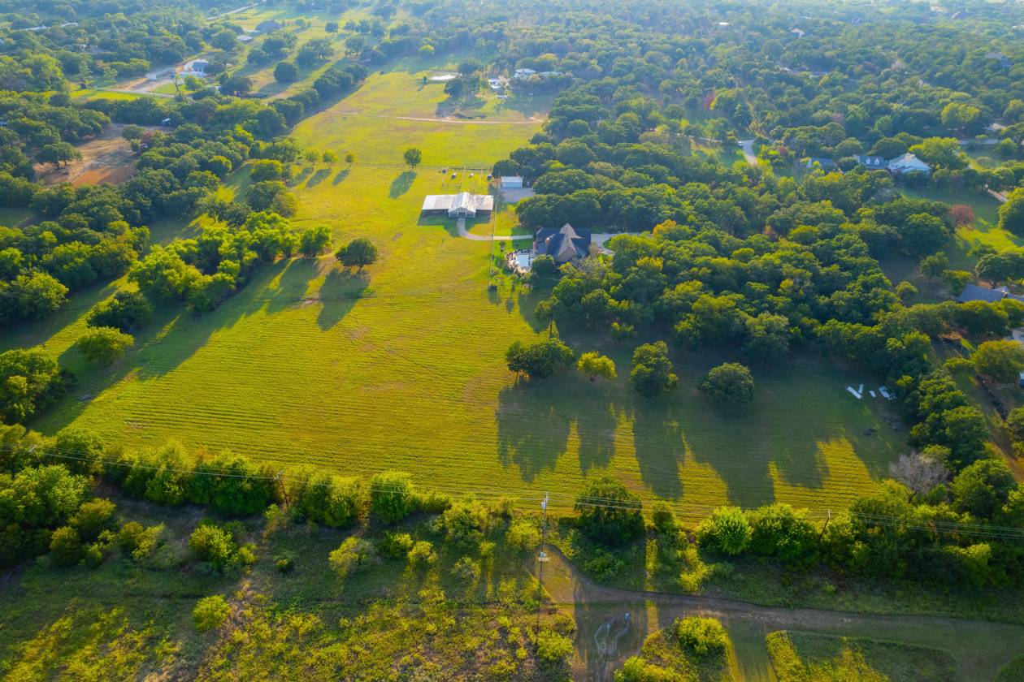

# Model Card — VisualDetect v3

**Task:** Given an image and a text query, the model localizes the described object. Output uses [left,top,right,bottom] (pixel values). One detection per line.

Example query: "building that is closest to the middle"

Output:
[526,218,595,264]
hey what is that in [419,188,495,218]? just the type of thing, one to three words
barn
